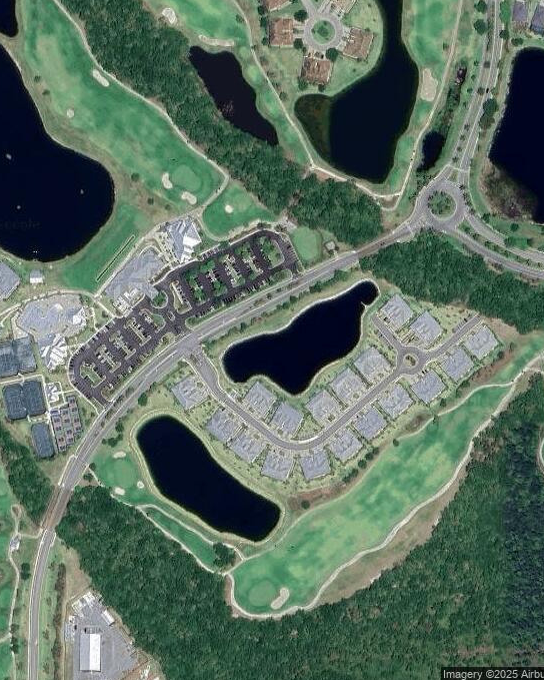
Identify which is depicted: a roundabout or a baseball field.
roundabout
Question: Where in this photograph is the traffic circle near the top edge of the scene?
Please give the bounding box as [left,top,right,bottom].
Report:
[302,12,344,54]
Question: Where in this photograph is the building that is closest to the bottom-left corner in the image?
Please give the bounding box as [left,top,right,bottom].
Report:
[80,634,101,671]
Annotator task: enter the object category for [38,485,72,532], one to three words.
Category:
bridge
